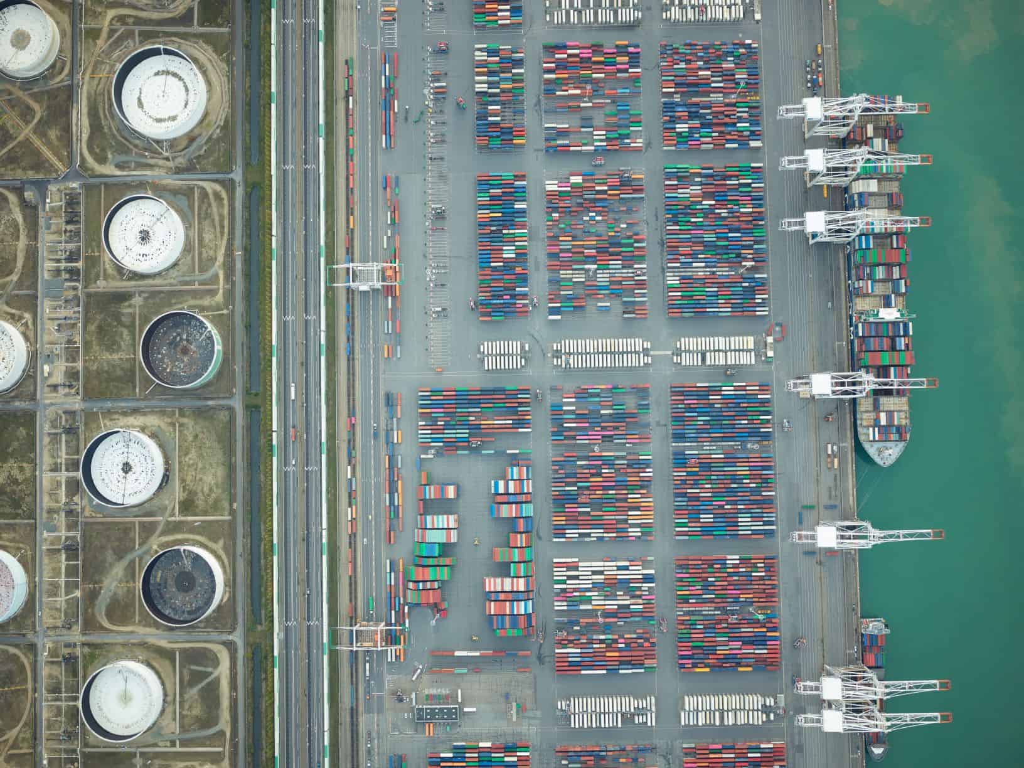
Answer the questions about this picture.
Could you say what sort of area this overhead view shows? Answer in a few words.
industrial area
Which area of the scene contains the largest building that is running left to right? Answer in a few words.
bottom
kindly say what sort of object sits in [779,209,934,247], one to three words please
container crane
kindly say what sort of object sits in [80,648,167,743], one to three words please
storage tank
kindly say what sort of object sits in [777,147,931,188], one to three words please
container crane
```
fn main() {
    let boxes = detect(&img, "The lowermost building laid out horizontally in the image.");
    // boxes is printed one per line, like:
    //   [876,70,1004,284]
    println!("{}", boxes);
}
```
[416,703,460,723]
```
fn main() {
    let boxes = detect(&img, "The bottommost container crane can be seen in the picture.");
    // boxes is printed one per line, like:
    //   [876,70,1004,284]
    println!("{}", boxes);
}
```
[795,693,955,733]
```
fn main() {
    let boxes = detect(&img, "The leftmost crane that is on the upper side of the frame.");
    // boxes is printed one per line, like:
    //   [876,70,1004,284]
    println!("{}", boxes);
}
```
[326,262,403,292]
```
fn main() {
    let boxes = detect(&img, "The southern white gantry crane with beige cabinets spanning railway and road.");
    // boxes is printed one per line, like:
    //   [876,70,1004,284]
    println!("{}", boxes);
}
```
[332,619,412,651]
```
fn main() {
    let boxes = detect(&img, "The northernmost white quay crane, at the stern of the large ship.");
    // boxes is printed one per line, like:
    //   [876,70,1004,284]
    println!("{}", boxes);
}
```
[775,95,929,141]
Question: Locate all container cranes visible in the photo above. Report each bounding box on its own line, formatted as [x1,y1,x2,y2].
[784,371,941,402]
[332,619,412,651]
[794,657,953,700]
[777,147,931,188]
[775,95,929,141]
[789,514,947,549]
[795,693,955,733]
[326,262,403,292]
[779,209,934,247]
